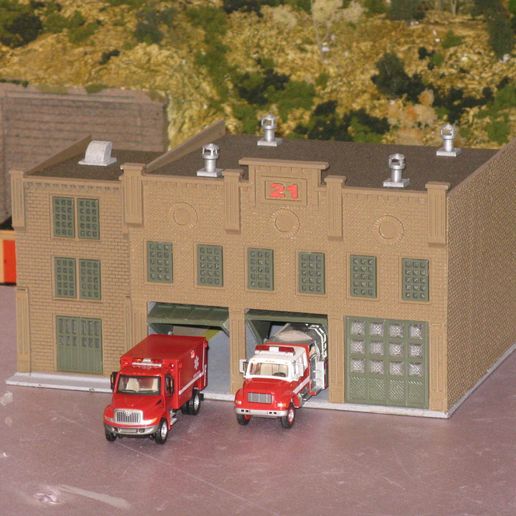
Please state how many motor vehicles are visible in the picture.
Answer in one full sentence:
The number of motor vehicles here is 2.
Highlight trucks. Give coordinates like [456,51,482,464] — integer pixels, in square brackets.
[237,325,329,430]
[104,339,206,447]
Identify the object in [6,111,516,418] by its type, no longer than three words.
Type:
building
